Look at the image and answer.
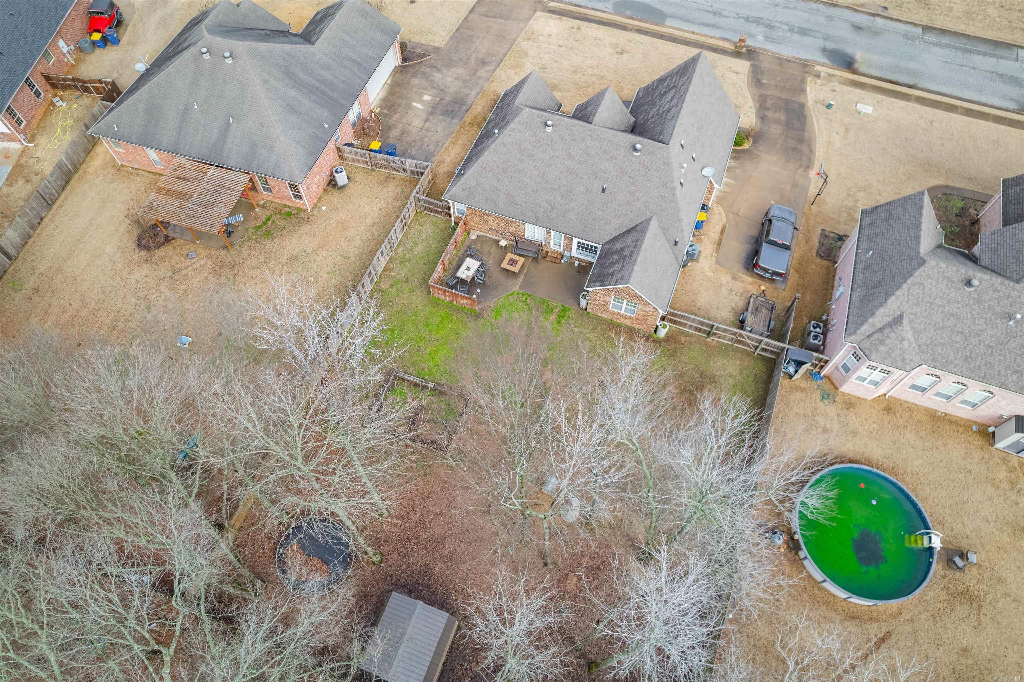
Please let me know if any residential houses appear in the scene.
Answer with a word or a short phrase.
Yes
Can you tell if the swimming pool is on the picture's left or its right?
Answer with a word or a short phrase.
right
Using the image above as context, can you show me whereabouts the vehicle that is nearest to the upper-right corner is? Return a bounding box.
[752,203,800,281]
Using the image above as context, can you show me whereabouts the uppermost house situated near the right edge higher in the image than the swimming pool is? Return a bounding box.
[816,176,1024,429]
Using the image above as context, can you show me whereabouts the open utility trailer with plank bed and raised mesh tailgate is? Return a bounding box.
[739,288,776,338]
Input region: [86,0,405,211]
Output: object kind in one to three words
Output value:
house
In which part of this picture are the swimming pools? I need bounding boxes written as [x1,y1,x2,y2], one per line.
[788,465,937,605]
